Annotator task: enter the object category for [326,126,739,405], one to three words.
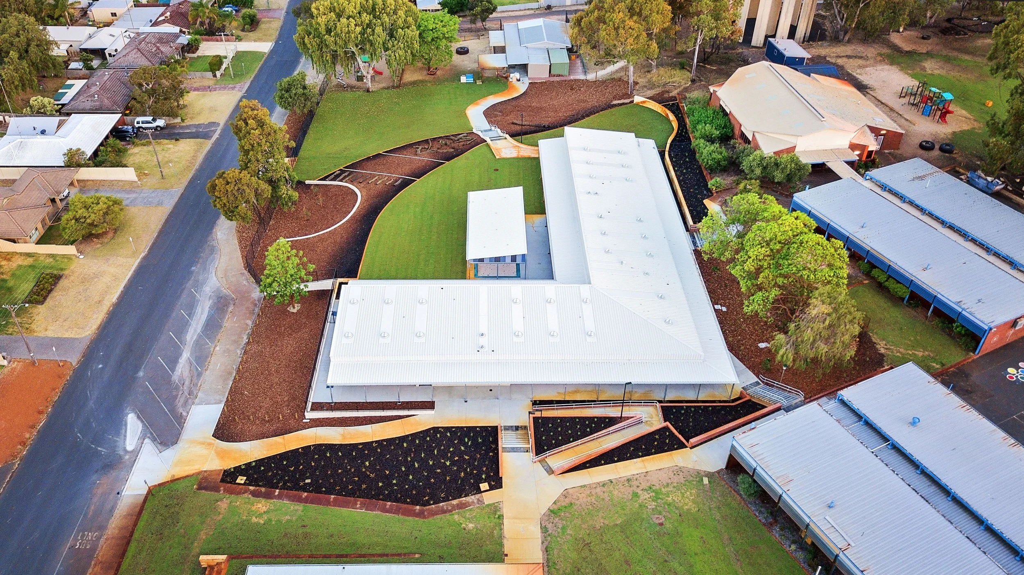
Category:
building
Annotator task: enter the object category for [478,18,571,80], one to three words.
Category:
building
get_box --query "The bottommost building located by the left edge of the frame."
[0,167,80,252]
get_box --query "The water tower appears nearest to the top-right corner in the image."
[737,0,824,46]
